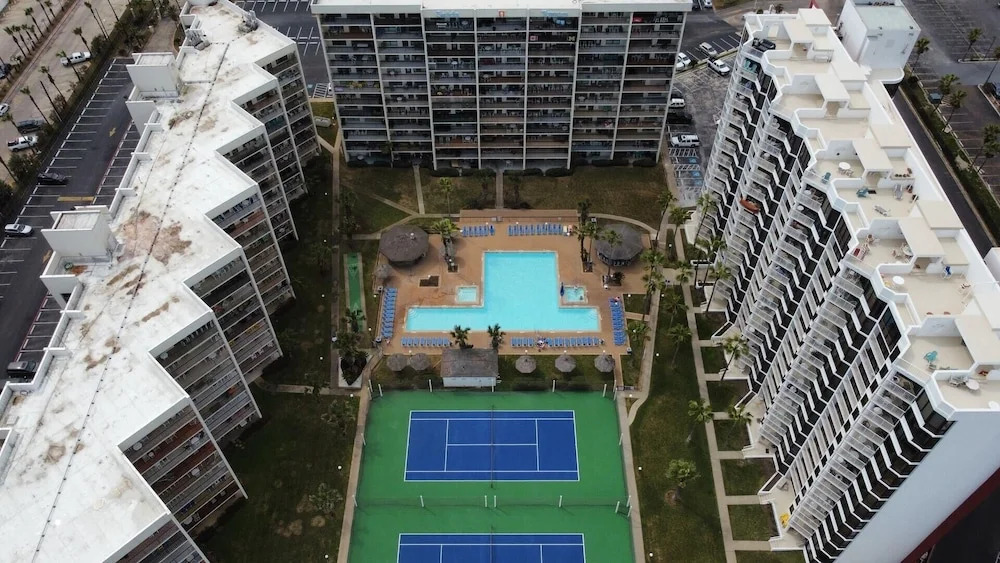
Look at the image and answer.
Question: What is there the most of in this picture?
buildings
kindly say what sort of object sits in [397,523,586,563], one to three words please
tennis court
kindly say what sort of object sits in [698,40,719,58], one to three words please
car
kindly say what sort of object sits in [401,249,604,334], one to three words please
swimming pool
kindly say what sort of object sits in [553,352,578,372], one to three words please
umbrella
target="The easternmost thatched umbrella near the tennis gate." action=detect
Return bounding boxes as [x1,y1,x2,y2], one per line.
[593,351,616,372]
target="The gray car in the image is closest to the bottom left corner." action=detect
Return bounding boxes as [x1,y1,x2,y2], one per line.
[1,360,39,378]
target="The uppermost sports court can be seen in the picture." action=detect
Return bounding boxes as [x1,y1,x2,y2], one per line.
[344,252,367,334]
